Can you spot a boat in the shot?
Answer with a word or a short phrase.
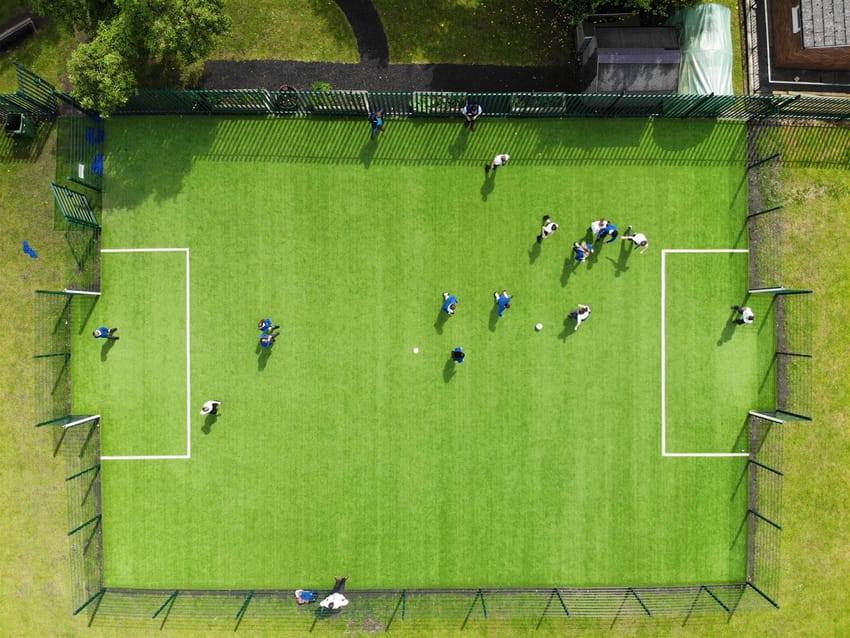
No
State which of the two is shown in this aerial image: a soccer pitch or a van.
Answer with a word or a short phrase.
soccer pitch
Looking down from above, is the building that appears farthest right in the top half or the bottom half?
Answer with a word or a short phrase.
top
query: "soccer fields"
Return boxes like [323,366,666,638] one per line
[67,115,779,592]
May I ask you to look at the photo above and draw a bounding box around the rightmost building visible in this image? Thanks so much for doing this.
[753,0,850,97]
